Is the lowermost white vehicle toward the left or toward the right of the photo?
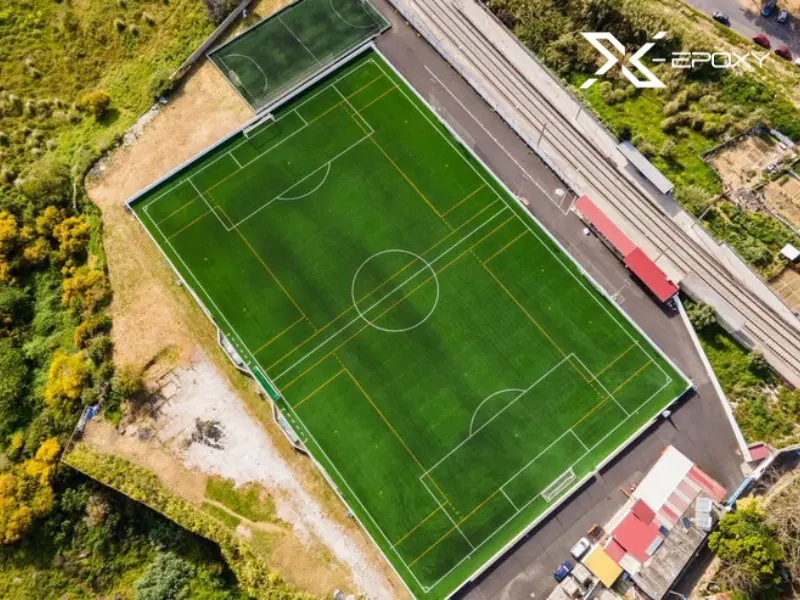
right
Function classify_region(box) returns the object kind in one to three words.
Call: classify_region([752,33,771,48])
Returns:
car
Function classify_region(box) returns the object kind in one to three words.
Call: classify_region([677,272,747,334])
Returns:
building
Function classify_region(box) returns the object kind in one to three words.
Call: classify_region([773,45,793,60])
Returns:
car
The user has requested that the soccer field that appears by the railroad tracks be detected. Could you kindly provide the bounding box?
[127,46,691,600]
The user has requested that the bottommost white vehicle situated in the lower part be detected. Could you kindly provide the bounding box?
[570,538,591,560]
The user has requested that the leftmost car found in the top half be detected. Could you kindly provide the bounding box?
[710,9,730,24]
